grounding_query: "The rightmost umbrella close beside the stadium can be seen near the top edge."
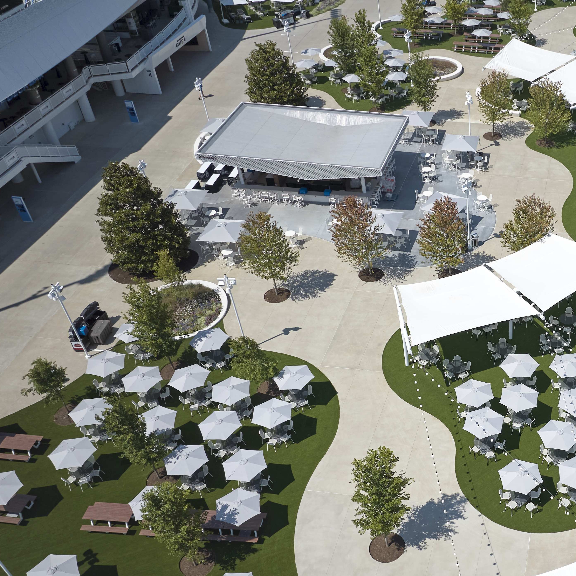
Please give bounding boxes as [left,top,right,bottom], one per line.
[220,0,247,22]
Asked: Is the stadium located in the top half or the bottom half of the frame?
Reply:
top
